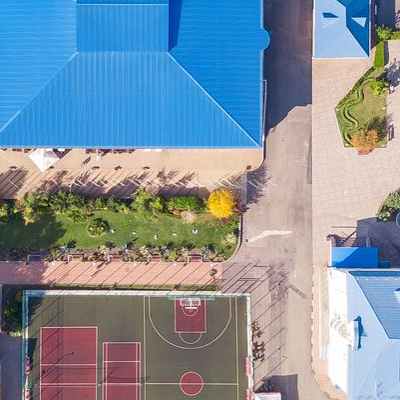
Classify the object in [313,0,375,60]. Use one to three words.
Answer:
building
